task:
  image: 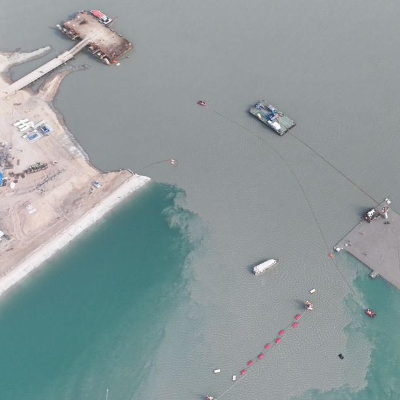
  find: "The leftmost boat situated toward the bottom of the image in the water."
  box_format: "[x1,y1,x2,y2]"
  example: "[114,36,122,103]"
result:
[251,259,277,274]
